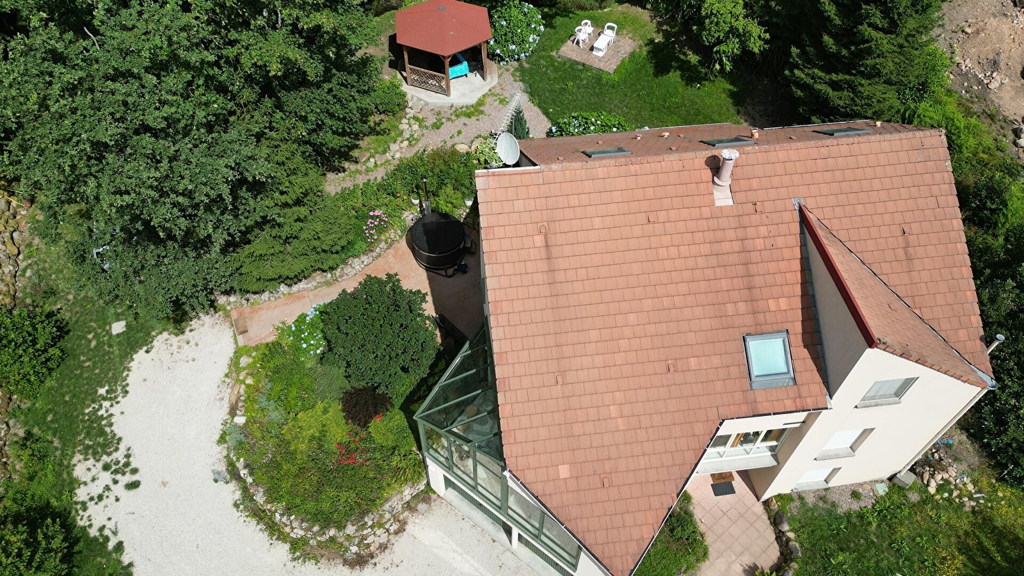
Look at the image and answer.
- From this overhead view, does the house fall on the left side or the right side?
right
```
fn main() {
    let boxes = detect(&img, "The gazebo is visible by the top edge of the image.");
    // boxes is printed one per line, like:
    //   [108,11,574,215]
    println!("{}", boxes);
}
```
[395,0,492,93]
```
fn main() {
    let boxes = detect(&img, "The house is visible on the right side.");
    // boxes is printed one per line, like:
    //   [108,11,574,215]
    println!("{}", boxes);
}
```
[412,116,1012,576]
